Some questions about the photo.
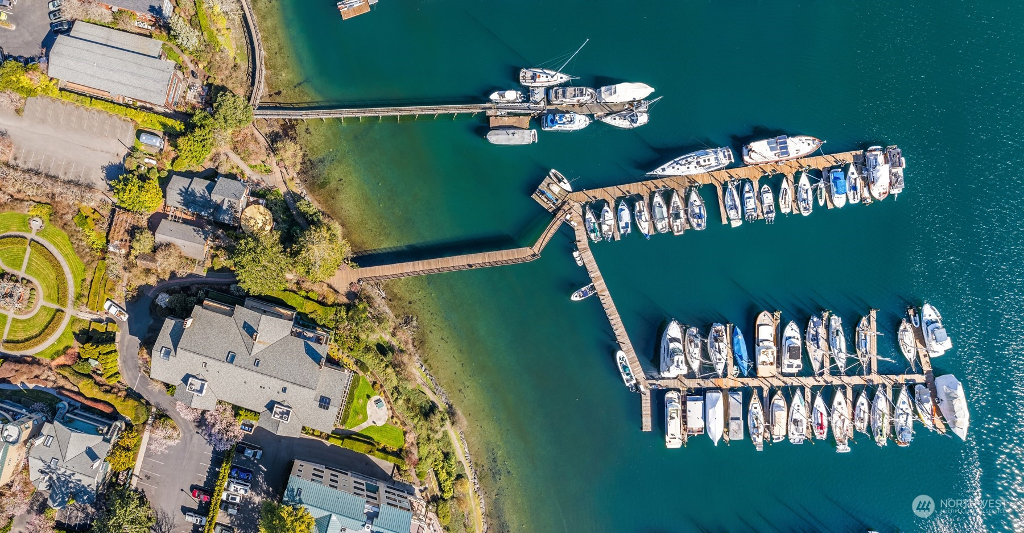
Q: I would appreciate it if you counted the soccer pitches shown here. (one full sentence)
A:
I count no soccer pitches.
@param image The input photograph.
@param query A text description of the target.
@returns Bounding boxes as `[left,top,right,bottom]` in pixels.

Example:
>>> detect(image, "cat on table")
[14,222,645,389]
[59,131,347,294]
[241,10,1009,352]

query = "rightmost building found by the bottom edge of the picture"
[280,456,430,533]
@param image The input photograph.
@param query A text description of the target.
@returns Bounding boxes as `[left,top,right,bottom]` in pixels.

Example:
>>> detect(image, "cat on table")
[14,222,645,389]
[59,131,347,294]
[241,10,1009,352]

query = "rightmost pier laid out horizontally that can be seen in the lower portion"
[647,374,926,388]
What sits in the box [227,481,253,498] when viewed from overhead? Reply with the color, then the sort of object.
white vehicle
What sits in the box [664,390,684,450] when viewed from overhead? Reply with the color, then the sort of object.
white boat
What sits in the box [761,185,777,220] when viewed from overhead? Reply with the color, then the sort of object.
white boat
